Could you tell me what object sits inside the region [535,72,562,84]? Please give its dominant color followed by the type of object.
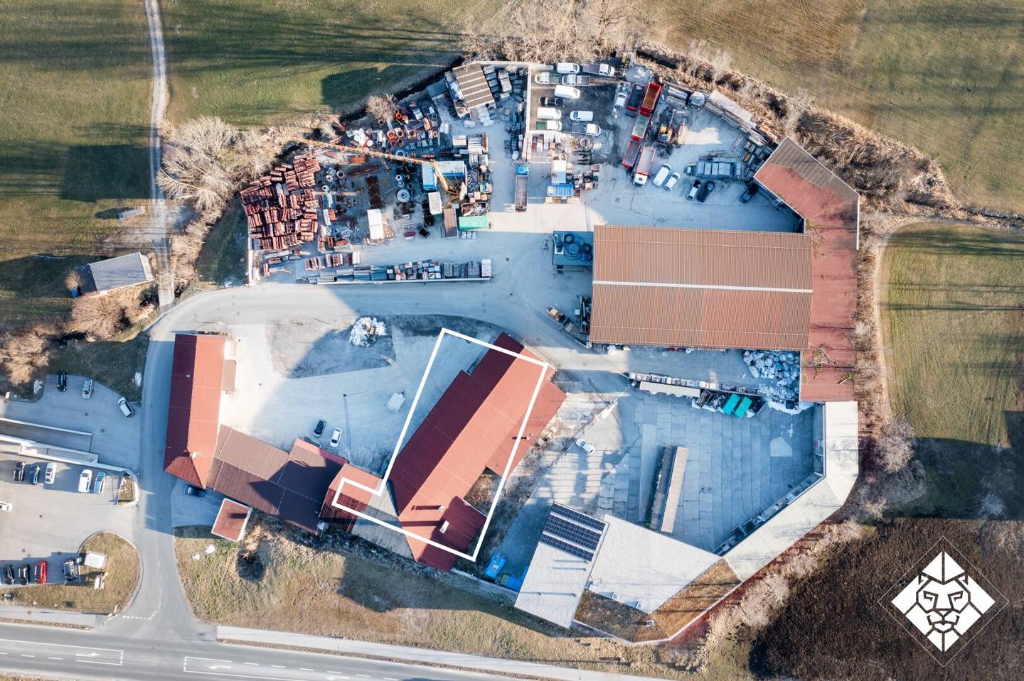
white vehicle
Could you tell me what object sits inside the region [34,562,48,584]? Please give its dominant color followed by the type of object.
red car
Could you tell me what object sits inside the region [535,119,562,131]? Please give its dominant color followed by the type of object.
white vehicle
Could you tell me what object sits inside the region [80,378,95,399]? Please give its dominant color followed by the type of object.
blue car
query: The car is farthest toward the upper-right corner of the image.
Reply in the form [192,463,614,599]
[738,185,757,204]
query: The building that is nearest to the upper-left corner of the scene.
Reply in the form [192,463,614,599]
[76,252,160,294]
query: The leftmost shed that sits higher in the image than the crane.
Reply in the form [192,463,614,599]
[445,61,496,122]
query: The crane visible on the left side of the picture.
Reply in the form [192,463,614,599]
[305,137,471,203]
